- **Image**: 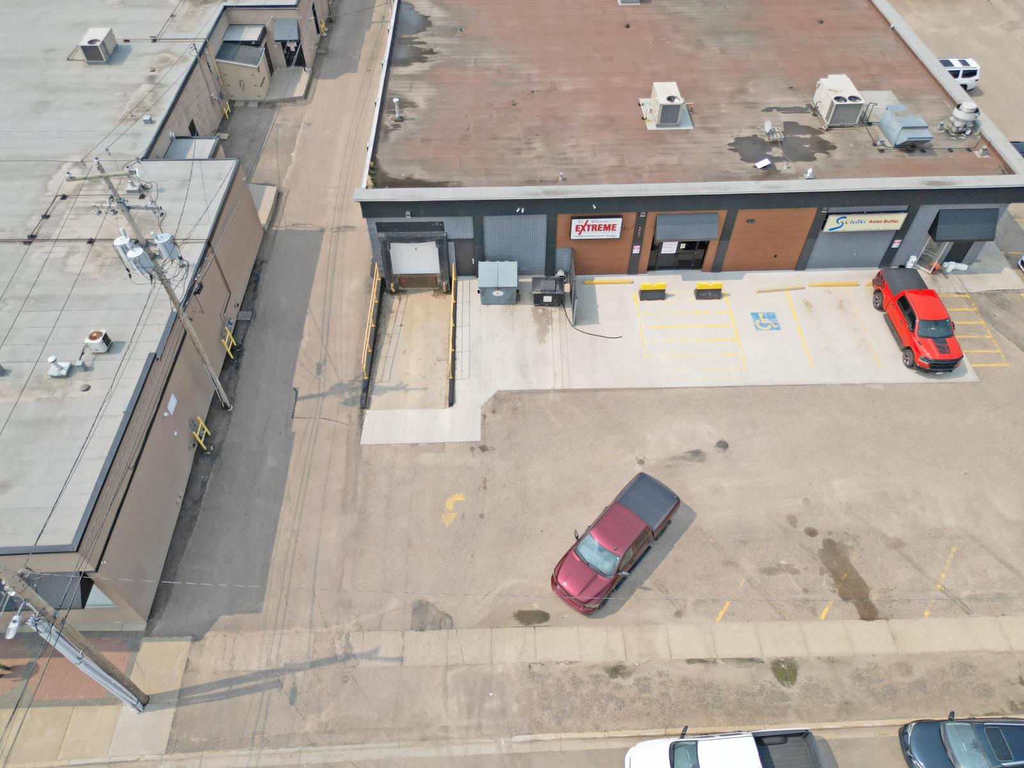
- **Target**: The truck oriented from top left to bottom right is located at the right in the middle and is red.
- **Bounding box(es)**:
[872,272,967,378]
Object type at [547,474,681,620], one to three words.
truck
